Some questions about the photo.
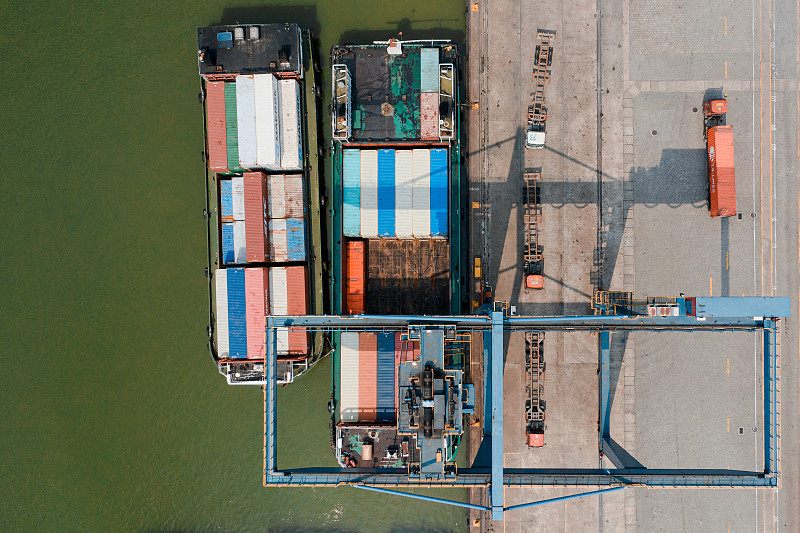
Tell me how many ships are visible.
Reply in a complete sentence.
Altogether the scene contains 2 ships.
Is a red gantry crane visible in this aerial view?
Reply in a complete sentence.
No, the picture doesn't show any red gantry crane.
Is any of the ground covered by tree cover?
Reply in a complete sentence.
No, the picture contains no tree cover.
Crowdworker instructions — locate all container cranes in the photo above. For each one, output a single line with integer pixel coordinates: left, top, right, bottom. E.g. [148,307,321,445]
[262,291,788,519]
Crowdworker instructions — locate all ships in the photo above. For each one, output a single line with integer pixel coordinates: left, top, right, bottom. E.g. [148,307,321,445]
[327,27,464,468]
[192,19,328,388]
